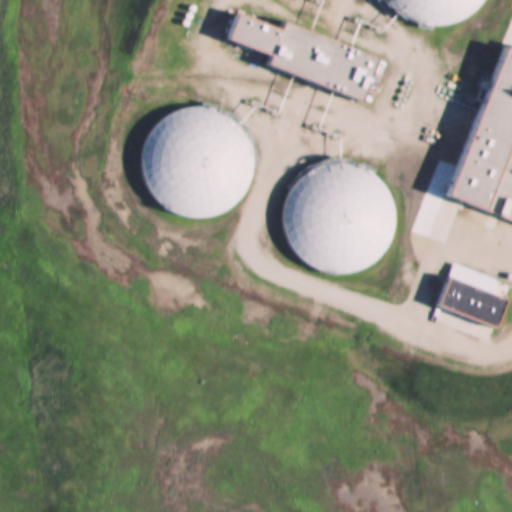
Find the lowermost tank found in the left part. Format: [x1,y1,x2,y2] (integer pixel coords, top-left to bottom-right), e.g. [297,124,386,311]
[140,100,256,220]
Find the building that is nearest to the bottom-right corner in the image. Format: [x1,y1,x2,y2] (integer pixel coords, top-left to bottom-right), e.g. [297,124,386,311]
[436,263,509,327]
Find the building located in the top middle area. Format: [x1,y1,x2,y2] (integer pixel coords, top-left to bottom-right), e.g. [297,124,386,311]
[227,14,378,100]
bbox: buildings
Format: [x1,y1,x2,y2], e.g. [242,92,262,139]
[227,14,378,100]
[444,50,512,224]
[436,263,509,327]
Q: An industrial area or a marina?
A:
industrial area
